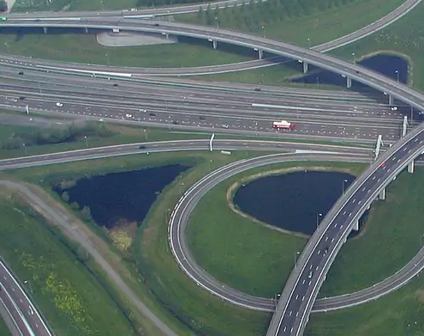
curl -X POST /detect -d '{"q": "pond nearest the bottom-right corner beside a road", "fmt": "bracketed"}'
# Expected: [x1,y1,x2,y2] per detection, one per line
[233,170,364,235]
